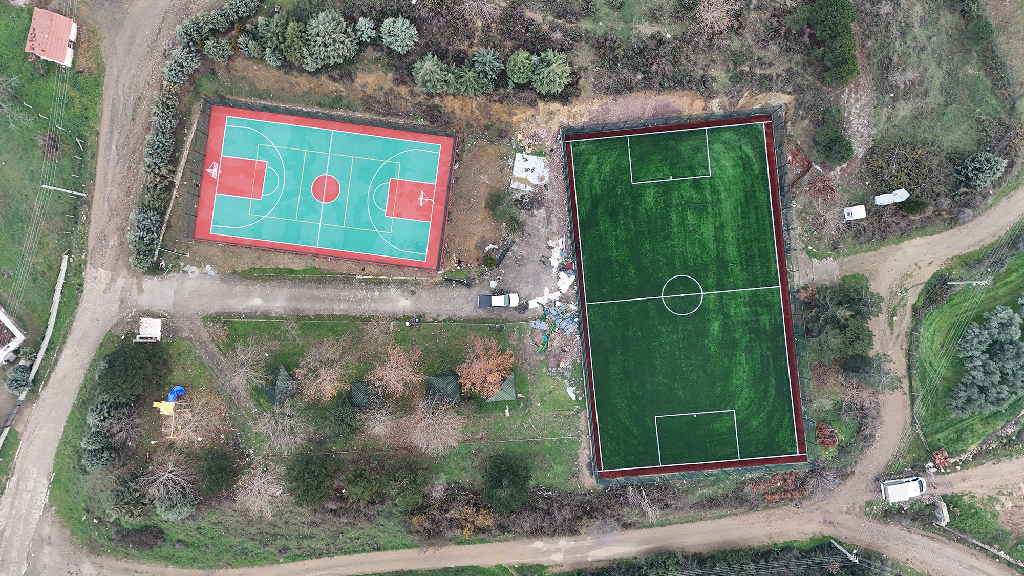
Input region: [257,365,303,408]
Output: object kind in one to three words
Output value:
building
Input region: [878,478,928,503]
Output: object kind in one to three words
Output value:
truck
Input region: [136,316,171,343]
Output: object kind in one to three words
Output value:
shed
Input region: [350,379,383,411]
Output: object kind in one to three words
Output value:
building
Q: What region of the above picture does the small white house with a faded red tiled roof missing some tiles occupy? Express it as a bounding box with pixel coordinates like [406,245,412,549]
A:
[23,7,84,67]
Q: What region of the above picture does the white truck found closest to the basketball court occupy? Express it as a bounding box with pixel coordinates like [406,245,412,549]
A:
[477,287,519,309]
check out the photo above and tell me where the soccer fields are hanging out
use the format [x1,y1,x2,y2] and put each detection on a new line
[566,115,806,478]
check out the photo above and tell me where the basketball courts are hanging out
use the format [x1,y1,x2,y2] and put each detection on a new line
[194,106,456,271]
